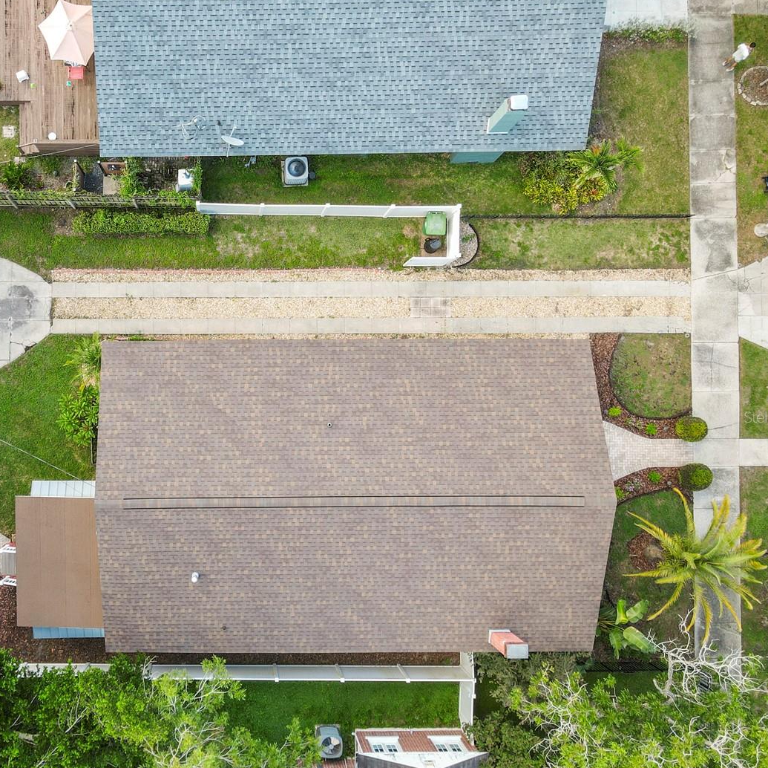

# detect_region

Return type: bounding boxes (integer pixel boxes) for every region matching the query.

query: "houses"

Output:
[305,725,495,768]
[90,0,609,164]
[15,333,618,660]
